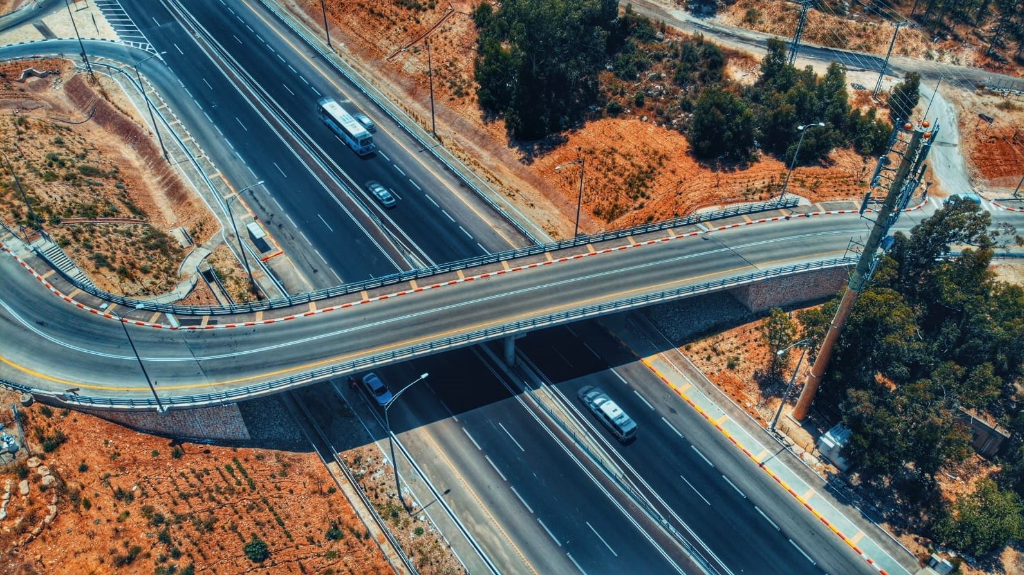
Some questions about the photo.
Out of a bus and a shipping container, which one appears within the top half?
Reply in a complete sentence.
What appears within the top half is a bus.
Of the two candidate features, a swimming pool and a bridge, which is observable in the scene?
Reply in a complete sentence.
The one in the frame is a bridge.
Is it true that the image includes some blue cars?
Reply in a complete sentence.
Yes, there is a blue car in the image.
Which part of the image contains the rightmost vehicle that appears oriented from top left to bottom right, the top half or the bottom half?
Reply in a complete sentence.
The bottom half of the photo is where the rightmost vehicle that appears oriented from top left to bottom right is.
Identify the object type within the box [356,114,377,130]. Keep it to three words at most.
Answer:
car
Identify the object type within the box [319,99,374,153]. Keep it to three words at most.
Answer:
bus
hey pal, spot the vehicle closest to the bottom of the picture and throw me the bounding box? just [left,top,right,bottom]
[581,395,634,444]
